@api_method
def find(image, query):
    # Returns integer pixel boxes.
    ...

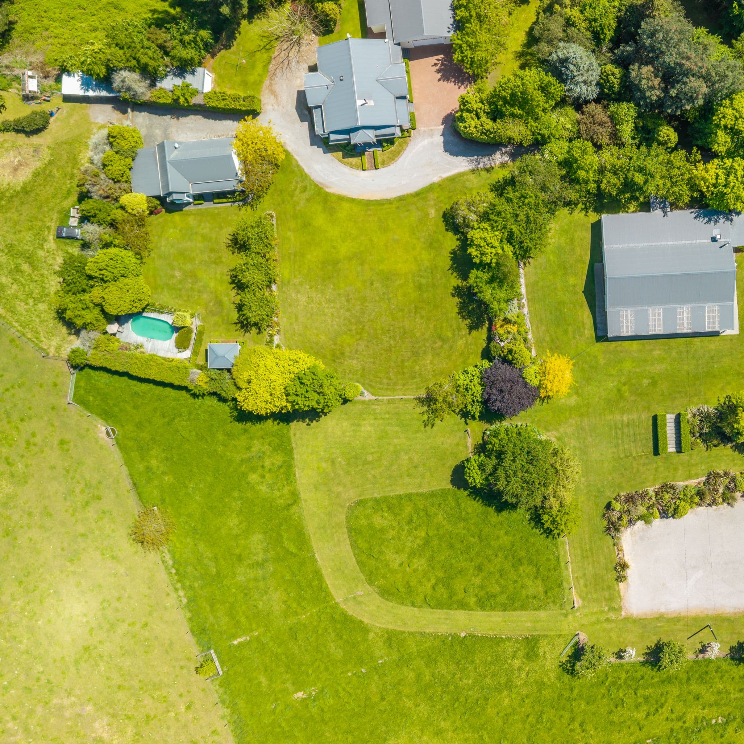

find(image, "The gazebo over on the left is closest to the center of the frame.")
[207,340,243,369]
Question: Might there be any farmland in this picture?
Yes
